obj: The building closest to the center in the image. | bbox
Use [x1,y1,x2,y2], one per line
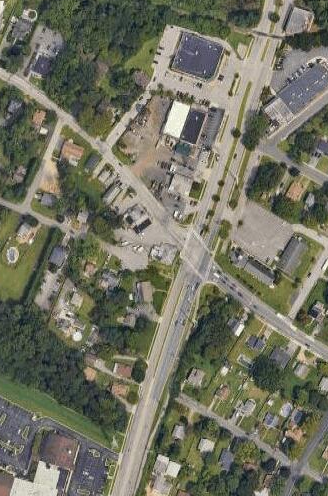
[149,244,175,264]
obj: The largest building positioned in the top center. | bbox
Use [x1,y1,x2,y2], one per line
[171,31,225,83]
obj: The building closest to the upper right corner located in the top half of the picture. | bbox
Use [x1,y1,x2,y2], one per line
[287,9,314,35]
